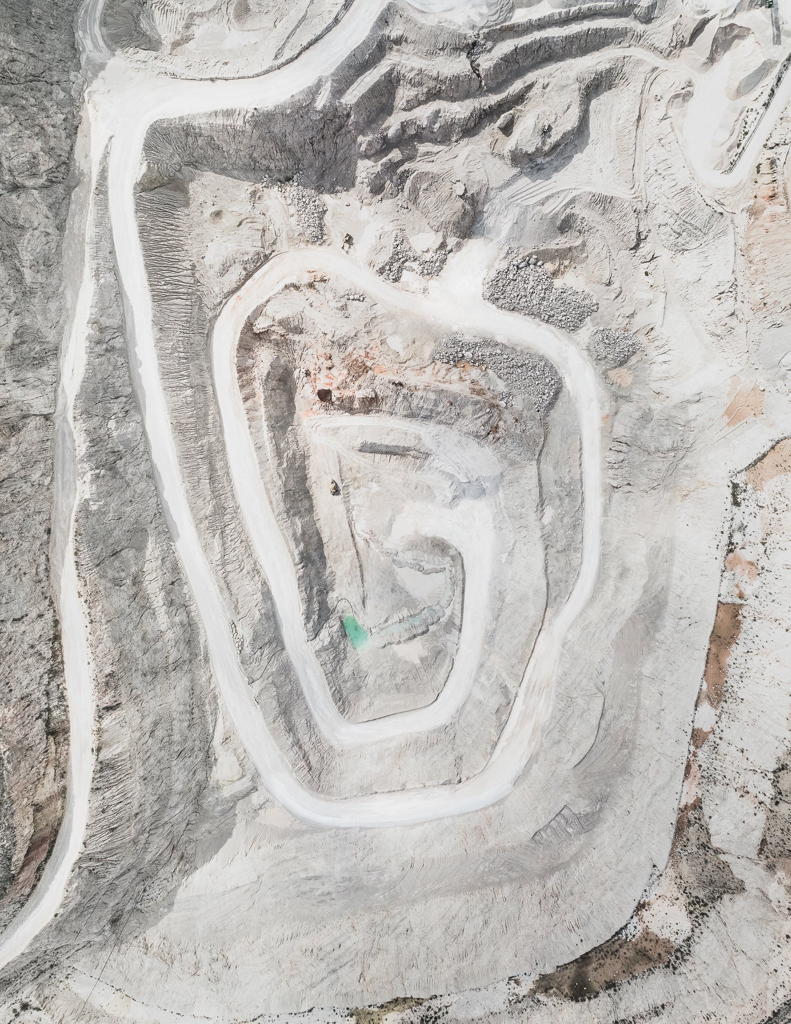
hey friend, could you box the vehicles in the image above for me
[341,231,351,251]
[330,479,339,492]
